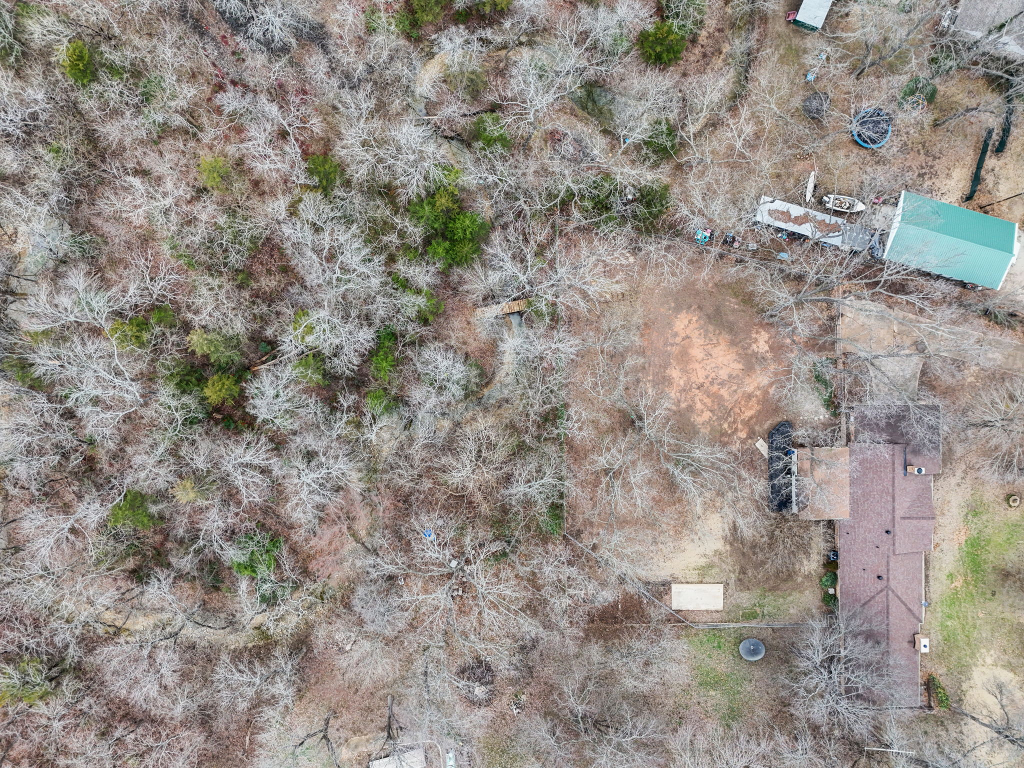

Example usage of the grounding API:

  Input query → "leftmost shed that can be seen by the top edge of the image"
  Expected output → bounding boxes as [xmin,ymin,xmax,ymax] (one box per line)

[791,0,832,35]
